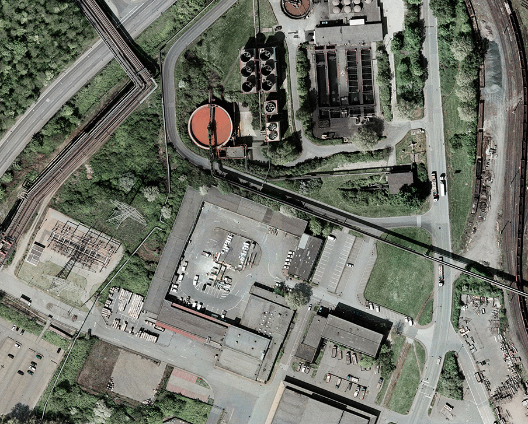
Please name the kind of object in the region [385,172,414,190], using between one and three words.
shed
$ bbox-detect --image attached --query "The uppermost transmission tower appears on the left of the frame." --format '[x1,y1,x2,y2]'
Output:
[116,207,143,225]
